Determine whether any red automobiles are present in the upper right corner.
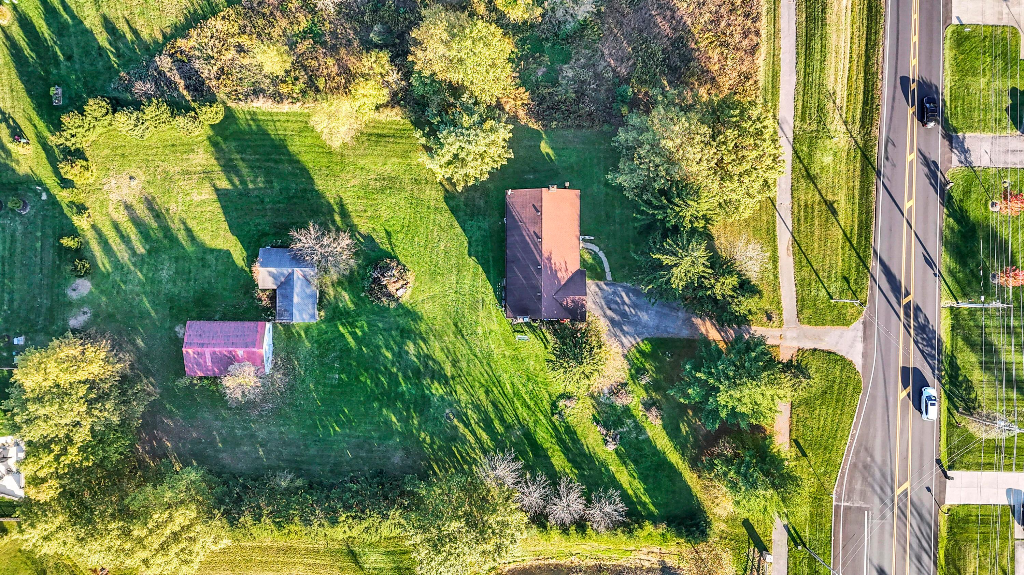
No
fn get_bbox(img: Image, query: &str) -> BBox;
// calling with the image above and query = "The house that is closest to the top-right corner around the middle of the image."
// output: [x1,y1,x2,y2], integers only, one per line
[505,183,587,322]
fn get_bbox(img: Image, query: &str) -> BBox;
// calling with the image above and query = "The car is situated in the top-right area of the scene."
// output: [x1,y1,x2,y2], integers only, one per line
[924,94,943,128]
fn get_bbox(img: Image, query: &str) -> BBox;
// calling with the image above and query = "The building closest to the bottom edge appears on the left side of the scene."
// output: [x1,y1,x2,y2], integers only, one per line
[182,321,273,377]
